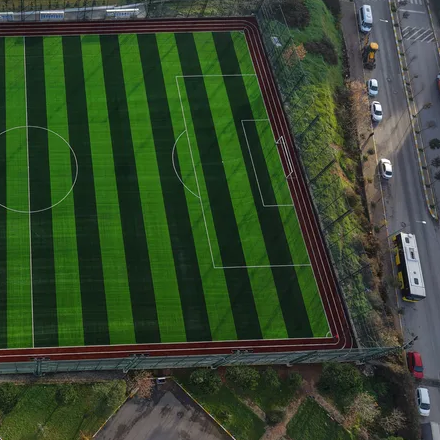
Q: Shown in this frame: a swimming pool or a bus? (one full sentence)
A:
The image shows a bus.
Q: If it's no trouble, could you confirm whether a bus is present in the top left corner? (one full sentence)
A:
No, no bus can be made out in the top left corner.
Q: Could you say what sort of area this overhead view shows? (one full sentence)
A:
It's a sports ground.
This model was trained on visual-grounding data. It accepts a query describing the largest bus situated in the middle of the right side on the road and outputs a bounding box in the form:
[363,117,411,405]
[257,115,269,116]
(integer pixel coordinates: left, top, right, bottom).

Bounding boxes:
[390,226,435,296]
